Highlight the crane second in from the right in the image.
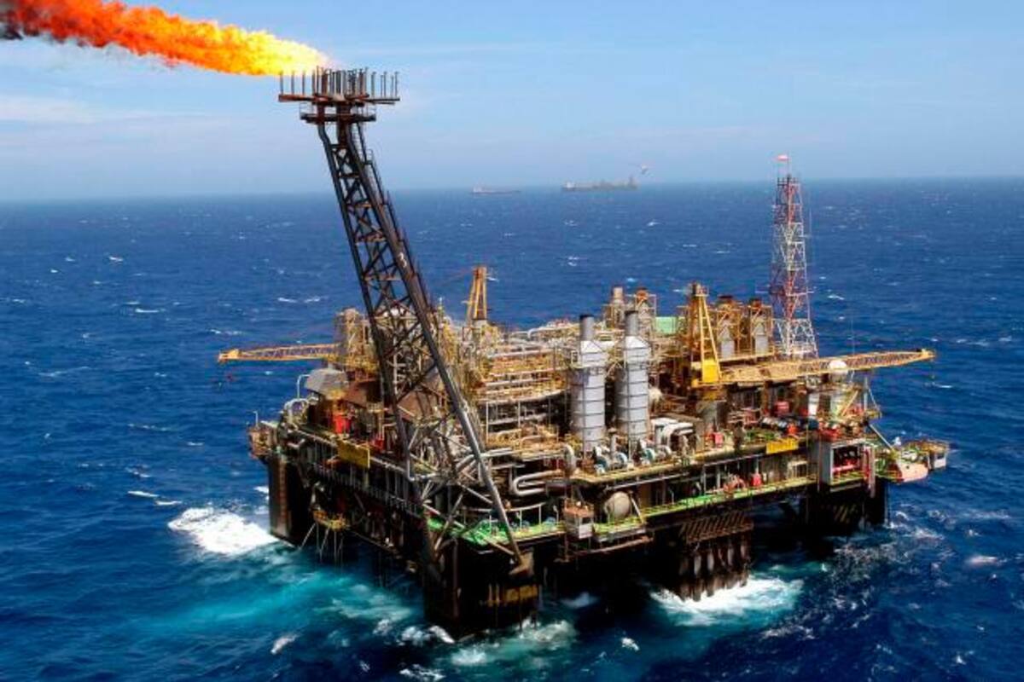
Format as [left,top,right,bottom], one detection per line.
[382,262,501,357]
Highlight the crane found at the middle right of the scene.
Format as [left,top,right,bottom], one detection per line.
[684,283,934,431]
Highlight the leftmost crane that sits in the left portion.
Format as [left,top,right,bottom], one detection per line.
[220,306,381,395]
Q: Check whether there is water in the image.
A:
Yes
